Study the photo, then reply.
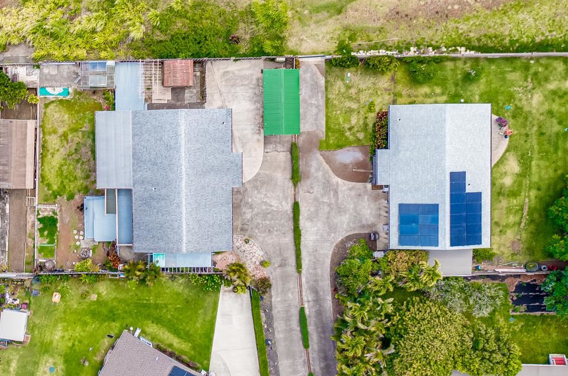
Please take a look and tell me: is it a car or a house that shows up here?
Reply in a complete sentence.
There is a house in the scene.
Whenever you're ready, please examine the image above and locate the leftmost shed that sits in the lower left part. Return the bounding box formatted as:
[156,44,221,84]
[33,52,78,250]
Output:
[0,308,30,343]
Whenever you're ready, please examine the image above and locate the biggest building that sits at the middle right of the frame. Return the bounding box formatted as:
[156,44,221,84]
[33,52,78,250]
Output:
[373,103,491,276]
